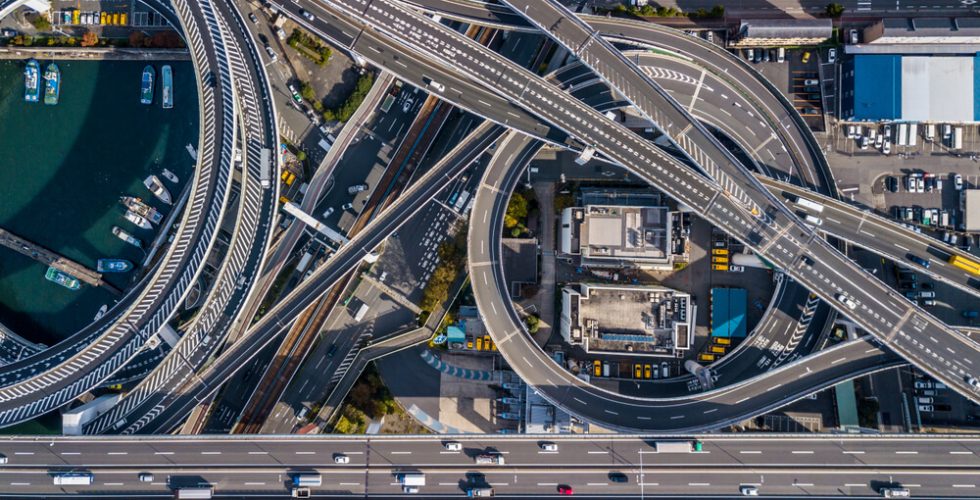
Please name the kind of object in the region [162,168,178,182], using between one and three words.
boat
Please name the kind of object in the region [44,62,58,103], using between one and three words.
boat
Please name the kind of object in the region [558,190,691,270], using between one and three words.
building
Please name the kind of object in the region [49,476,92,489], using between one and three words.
vehicle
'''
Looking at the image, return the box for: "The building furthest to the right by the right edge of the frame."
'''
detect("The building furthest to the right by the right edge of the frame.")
[947,190,980,233]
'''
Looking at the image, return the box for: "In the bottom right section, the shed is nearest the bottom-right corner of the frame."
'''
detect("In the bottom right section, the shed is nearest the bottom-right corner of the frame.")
[826,378,862,434]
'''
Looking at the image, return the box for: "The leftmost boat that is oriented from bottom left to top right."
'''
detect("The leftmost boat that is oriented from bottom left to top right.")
[92,304,106,320]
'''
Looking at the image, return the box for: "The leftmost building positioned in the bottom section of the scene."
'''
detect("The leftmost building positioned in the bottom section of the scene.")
[63,378,145,434]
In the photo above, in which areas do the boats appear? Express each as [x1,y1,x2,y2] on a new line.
[186,144,195,159]
[162,168,178,182]
[141,173,170,203]
[140,63,152,103]
[23,60,37,102]
[92,304,106,320]
[110,227,142,248]
[96,260,132,273]
[44,62,58,103]
[43,268,79,287]
[120,194,159,219]
[161,64,171,107]
[122,210,151,227]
